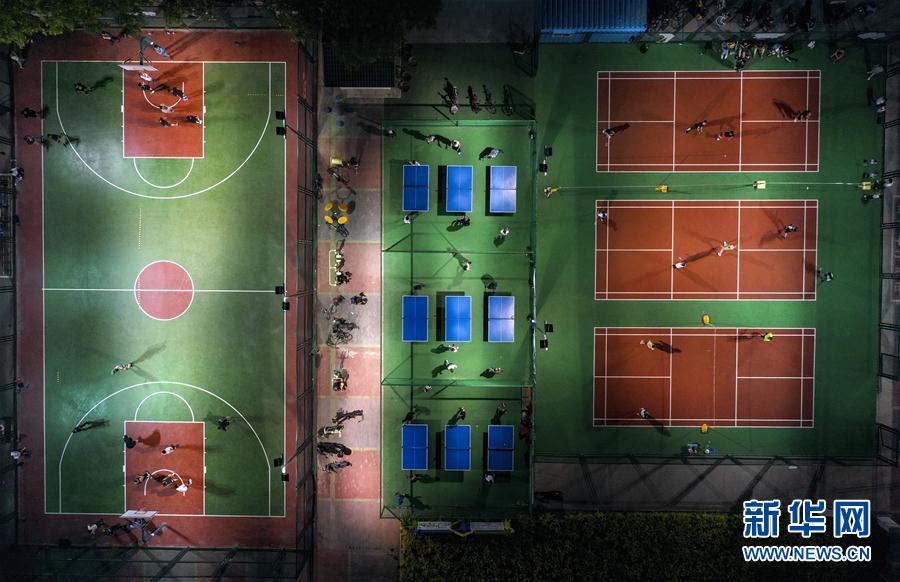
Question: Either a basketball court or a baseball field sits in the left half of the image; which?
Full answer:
The one visible in the left half of the image is a basketball court.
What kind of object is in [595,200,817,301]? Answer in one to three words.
sports court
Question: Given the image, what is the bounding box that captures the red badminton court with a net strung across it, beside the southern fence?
[593,327,815,428]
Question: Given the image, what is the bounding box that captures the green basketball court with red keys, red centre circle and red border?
[19,31,314,546]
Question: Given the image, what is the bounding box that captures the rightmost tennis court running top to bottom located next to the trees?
[381,121,534,517]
